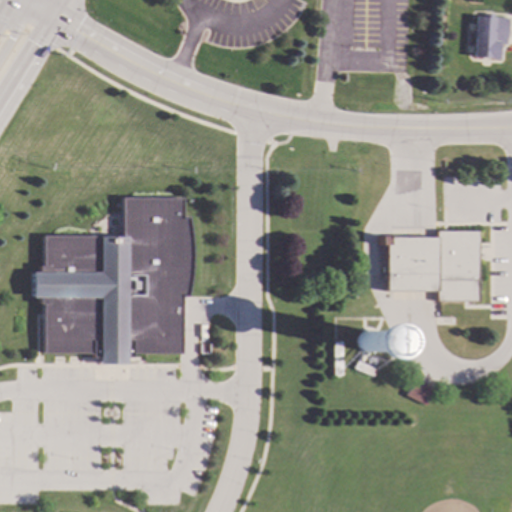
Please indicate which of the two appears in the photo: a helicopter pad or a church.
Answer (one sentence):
It is a church that can be seen here.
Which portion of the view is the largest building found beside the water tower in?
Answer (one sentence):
The largest building found beside the water tower is in the right part of the image.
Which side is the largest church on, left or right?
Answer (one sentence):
The largest church is on the left side of the image.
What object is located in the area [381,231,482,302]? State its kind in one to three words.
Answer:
building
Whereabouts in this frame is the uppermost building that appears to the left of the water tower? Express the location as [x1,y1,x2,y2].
[33,198,196,363]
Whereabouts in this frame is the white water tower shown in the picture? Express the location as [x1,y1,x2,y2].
[357,324,422,362]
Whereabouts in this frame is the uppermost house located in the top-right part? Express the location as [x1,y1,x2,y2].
[476,13,509,58]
